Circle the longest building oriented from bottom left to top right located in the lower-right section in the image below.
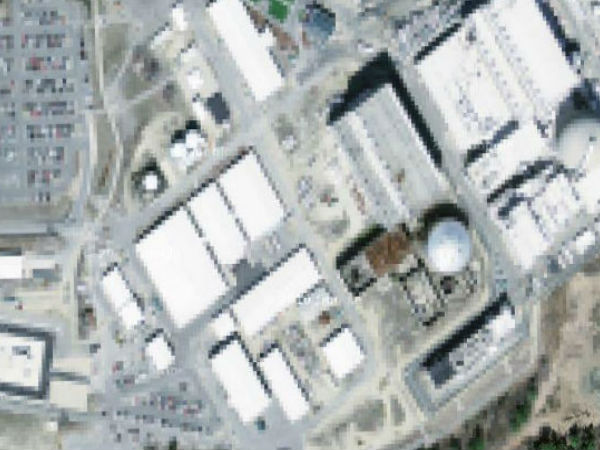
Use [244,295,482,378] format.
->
[424,306,517,390]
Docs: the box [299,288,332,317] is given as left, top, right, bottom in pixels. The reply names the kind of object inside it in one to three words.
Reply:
shed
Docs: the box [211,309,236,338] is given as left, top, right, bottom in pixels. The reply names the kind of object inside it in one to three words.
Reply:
building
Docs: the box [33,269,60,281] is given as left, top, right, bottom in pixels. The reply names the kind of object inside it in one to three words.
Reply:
building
